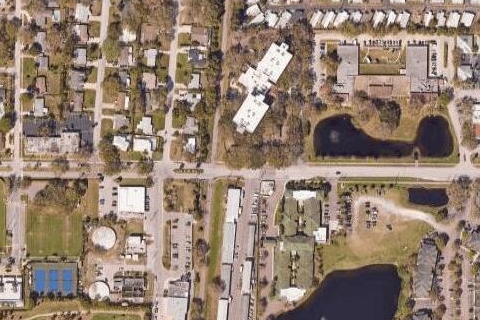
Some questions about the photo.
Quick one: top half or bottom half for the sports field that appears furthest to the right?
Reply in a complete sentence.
The bottom half of the photo is where the sports field that appears furthest to the right is.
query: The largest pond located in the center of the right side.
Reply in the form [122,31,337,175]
[314,114,453,158]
